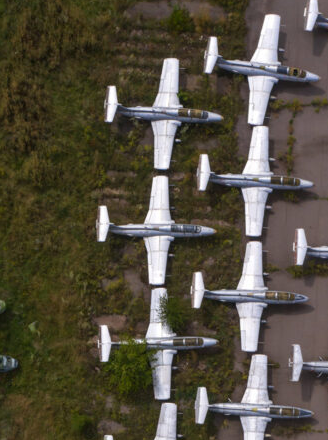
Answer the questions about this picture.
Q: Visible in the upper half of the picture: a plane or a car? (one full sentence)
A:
You can see a plane in the upper half of the picture.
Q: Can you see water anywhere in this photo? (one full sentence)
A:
No, the scene doesn't show any water.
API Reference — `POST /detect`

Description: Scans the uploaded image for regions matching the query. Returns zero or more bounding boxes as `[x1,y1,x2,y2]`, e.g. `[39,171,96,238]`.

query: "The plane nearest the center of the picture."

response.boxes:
[97,175,216,285]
